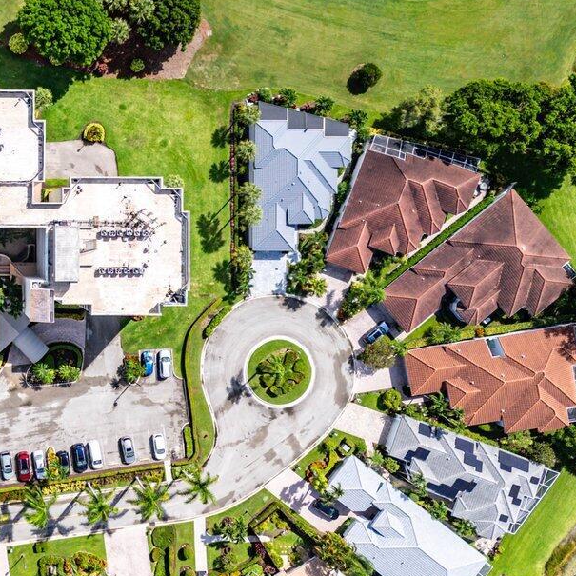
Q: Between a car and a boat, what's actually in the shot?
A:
car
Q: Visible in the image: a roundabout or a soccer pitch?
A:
roundabout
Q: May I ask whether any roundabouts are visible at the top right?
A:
No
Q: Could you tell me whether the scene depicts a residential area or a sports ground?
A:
residential area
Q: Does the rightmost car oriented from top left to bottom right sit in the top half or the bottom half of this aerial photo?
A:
bottom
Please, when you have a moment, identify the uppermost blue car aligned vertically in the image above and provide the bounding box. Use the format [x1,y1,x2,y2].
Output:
[140,350,154,378]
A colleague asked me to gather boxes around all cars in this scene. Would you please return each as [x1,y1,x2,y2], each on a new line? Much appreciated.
[309,496,340,521]
[140,350,154,378]
[0,451,12,480]
[119,436,133,464]
[55,444,70,476]
[151,432,165,461]
[17,451,31,482]
[70,442,87,474]
[32,450,46,480]
[363,319,393,344]
[157,349,171,378]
